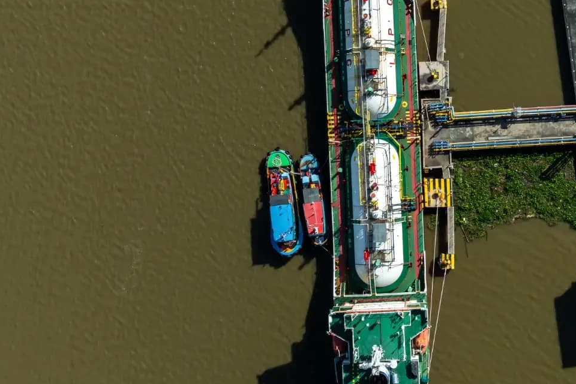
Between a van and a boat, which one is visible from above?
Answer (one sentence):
The image shows a boat.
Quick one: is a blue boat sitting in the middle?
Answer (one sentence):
Yes, a blue boat shows up in the middle.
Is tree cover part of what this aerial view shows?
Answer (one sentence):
No, no tree cover is visible.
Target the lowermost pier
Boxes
[422,97,576,169]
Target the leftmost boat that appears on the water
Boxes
[264,148,304,258]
